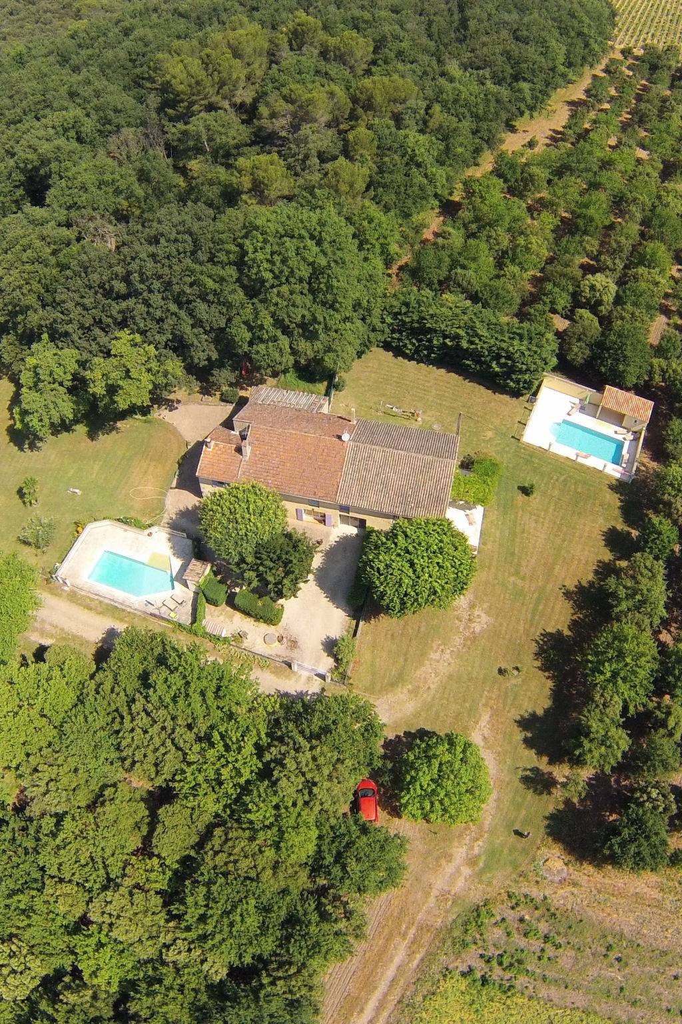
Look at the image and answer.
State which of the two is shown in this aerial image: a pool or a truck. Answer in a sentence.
I can see a pool in this picture.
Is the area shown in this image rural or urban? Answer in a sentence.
It looks rural.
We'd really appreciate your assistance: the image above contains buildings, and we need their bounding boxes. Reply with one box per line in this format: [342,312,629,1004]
[598,385,654,432]
[183,558,211,592]
[195,386,460,541]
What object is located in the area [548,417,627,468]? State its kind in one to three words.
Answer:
swimming pool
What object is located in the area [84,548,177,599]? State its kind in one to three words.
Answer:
swimming pool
